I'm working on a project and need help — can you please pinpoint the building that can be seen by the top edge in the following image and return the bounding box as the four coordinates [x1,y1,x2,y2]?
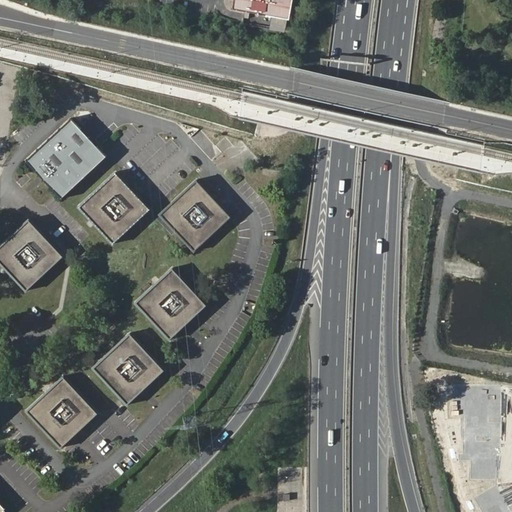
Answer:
[232,0,292,34]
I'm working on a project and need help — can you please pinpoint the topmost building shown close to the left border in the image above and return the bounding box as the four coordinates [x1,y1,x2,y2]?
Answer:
[24,120,106,198]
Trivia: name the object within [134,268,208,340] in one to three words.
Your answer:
building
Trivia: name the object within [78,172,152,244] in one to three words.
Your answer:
building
